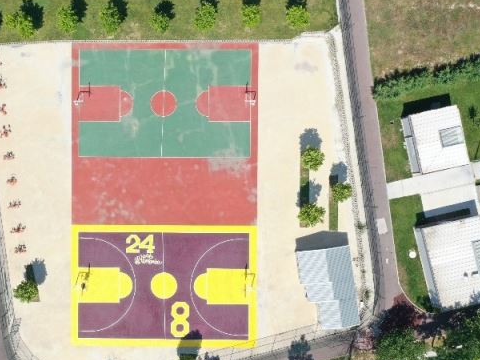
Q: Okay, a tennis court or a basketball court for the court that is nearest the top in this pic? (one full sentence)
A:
From above, the court that is nearest the top can be identified as a basketball court.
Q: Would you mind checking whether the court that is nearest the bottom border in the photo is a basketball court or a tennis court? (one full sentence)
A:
The court that is nearest the bottom border in the image is a basketball court.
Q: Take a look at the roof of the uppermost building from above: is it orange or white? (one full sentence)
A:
The roof of the uppermost building is white.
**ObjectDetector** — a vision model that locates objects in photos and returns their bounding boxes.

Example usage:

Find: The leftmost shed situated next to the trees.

[294,245,361,328]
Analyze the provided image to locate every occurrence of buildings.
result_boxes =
[402,105,470,174]
[412,214,480,309]
[294,245,361,328]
